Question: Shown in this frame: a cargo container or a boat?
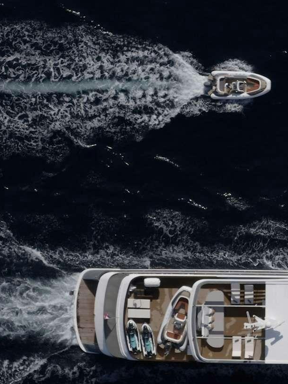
boat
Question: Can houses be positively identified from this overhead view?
No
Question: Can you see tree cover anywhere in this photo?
No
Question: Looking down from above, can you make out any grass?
No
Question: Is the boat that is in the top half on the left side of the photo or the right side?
right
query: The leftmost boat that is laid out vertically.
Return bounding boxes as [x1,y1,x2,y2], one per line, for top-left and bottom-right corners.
[127,320,141,354]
